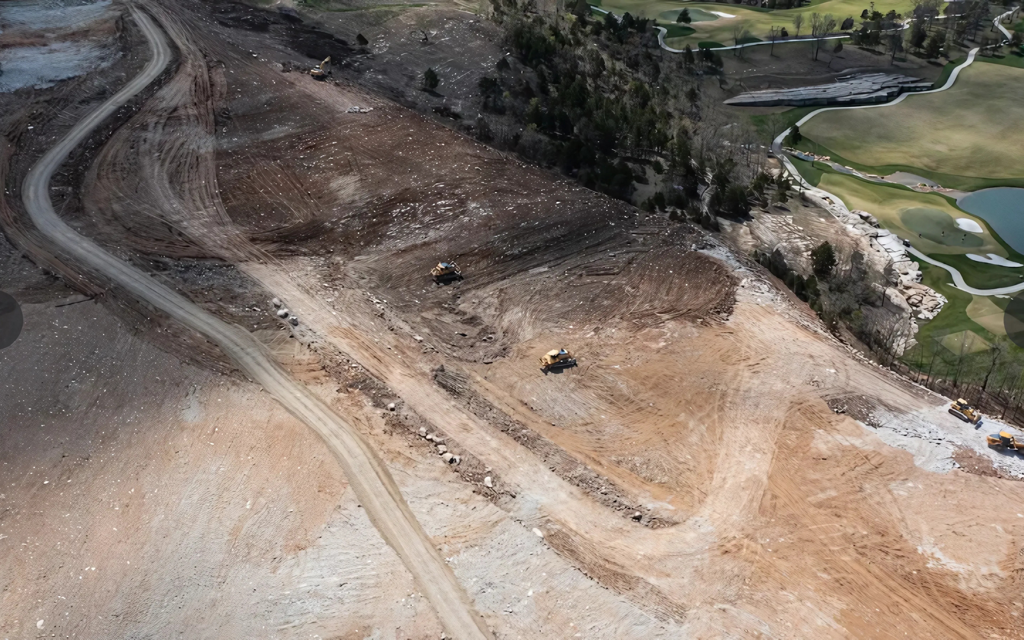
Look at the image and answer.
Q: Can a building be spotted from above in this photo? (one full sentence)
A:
No, there isn't any building down there.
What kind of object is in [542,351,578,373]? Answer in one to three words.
work vehicle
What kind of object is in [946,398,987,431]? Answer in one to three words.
work vehicle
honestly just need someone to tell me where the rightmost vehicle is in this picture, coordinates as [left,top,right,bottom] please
[992,428,1024,454]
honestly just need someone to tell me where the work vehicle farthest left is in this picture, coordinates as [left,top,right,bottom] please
[310,52,338,78]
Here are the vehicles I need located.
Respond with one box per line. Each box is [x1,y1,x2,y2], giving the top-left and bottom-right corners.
[542,351,578,373]
[992,428,1024,454]
[310,52,338,78]
[946,398,987,431]
[432,263,463,283]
